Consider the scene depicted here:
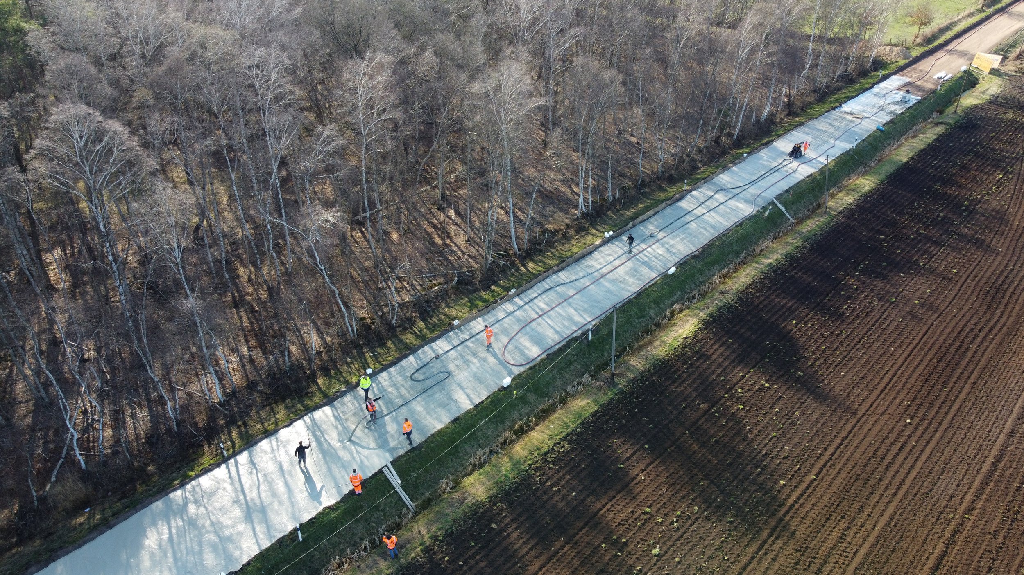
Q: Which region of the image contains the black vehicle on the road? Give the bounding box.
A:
[792,143,805,159]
